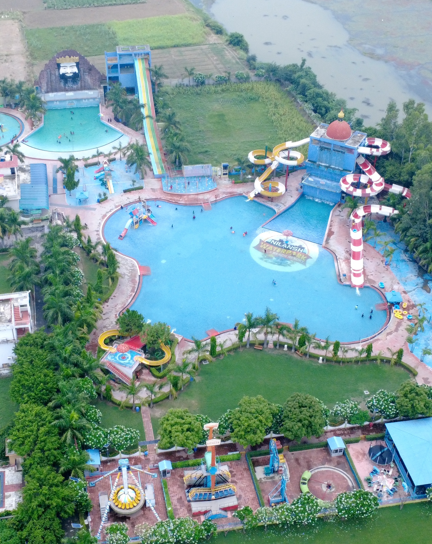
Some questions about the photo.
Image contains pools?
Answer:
Yes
